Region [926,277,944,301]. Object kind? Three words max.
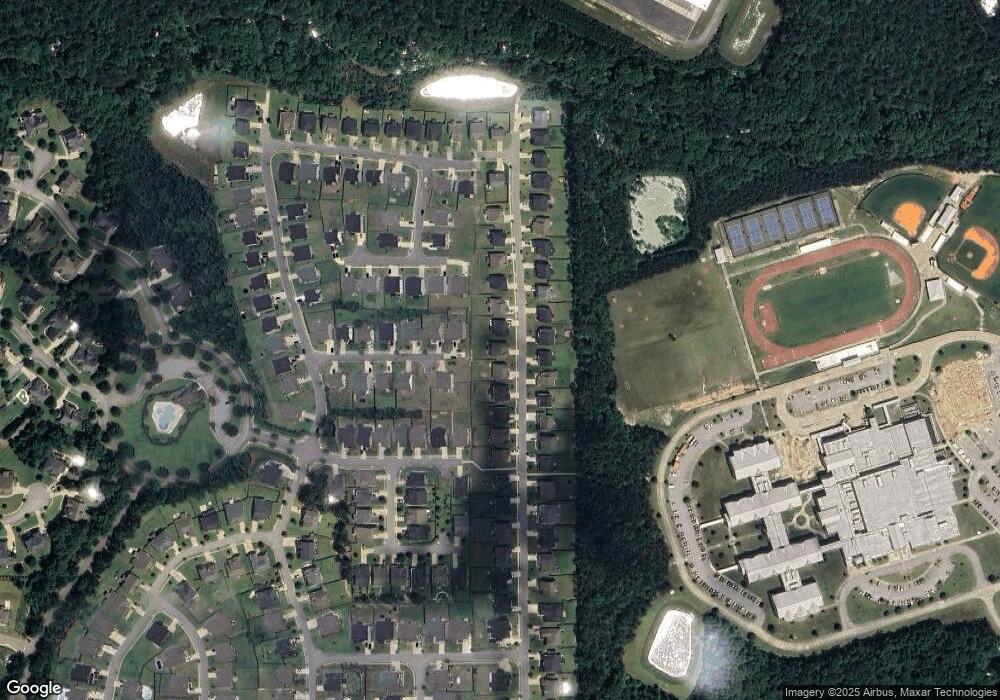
shed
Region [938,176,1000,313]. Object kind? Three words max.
baseball field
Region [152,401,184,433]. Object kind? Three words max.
swimming pool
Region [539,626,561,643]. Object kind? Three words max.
house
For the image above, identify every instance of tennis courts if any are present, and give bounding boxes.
[816,196,835,225]
[764,212,783,240]
[781,207,800,235]
[727,225,746,253]
[798,201,817,229]
[745,218,764,246]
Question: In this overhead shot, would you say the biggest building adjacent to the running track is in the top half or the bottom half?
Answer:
bottom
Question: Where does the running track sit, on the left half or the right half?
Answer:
right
